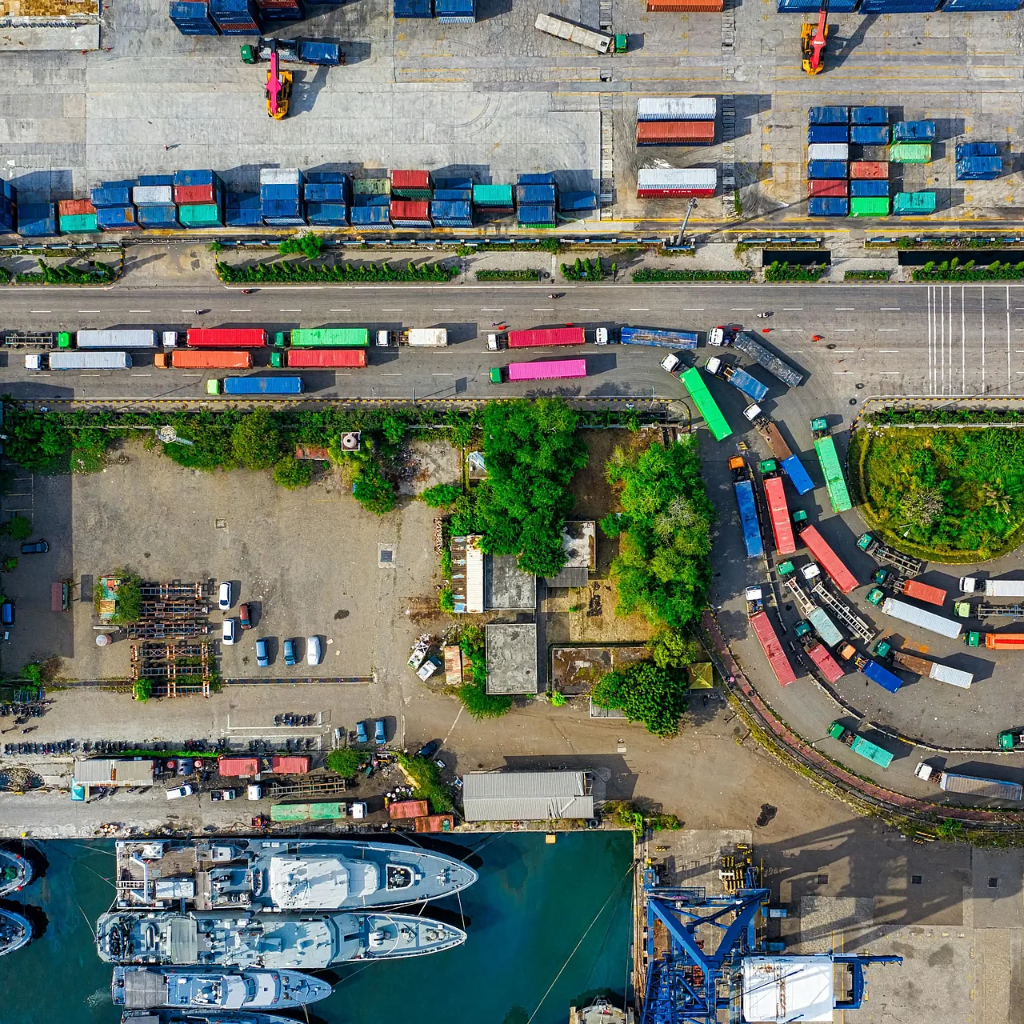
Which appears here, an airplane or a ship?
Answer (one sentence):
Visible in the photo is a ship.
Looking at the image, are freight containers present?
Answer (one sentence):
Yes, there is a freight container in the image.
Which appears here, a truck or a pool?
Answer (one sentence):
The image shows a truck.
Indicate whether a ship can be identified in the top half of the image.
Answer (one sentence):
No, there is no ship in the top half of the image.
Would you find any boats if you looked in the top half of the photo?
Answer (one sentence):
No, I can find no boat in the top half of the photo.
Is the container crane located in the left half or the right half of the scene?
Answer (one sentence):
The container crane sits on the right side.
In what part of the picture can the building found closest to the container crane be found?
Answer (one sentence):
The building found closest to the container crane appears toward the bottom of the photo.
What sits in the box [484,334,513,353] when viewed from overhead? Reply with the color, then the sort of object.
white vehicle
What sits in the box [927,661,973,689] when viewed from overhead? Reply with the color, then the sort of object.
white shipping container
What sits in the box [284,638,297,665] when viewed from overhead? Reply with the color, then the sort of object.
blue vehicle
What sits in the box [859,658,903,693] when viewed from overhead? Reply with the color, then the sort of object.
blue shipping container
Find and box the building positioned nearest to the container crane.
[463,769,594,822]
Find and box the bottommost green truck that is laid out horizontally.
[271,800,368,822]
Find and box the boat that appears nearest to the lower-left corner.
[0,903,38,956]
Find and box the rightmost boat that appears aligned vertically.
[250,866,264,897]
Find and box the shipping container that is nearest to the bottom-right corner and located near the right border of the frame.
[938,771,1022,801]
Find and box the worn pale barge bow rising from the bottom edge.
[569,997,634,1024]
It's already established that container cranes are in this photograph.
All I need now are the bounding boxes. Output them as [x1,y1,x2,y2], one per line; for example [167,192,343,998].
[640,859,904,1024]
